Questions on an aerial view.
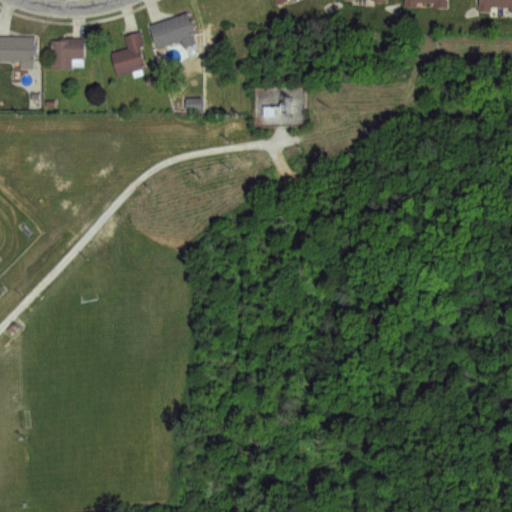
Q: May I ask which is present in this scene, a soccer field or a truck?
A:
soccer field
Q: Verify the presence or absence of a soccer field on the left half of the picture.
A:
Yes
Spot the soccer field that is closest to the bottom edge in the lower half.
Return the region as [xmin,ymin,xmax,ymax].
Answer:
[23,237,188,504]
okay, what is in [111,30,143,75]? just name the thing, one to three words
house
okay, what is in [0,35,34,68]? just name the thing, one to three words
house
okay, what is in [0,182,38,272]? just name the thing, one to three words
sports field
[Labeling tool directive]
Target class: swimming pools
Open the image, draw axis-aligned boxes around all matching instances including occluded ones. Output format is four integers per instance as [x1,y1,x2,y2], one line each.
[20,74,32,86]
[166,48,180,64]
